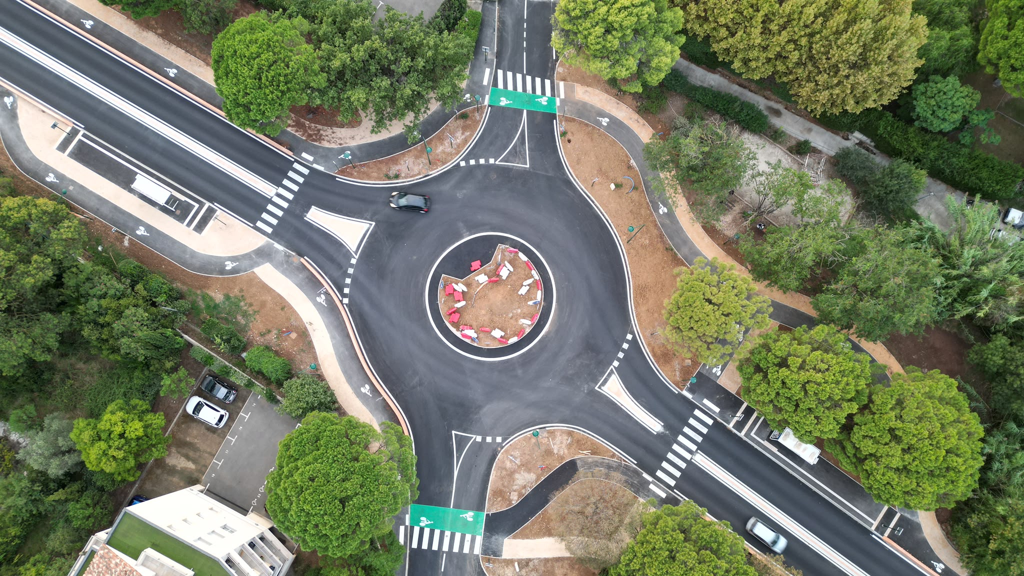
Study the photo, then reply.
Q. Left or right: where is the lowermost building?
left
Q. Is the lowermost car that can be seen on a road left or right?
right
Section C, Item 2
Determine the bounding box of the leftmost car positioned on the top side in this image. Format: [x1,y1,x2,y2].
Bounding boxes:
[389,190,431,214]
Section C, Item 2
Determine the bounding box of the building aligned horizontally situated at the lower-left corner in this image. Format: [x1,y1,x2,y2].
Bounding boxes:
[66,481,297,576]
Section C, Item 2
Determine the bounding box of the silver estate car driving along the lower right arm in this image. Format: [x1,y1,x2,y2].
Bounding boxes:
[744,516,787,554]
